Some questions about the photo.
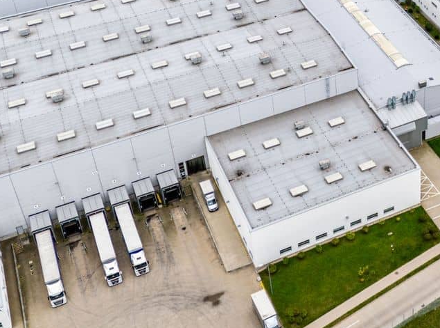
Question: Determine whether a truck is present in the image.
Yes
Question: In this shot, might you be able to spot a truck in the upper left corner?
No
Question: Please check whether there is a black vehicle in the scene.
No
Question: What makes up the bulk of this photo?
buildings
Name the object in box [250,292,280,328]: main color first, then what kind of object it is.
white truck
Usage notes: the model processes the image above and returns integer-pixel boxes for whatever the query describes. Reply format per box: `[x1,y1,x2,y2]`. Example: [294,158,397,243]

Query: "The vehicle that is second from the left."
[89,211,124,288]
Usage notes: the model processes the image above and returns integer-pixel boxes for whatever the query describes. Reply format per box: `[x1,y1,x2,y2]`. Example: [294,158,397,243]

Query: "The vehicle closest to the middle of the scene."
[199,176,218,211]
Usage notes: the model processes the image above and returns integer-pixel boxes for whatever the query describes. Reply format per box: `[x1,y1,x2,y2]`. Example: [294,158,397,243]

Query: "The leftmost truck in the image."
[36,228,67,310]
